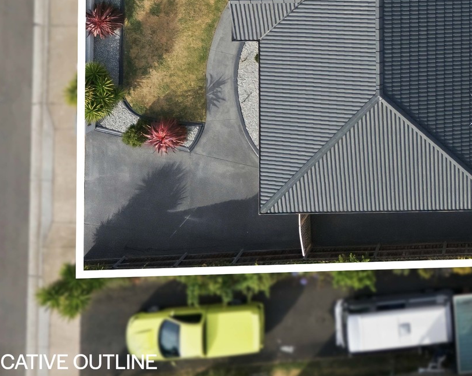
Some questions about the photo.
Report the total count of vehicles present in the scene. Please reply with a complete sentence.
My tally gives 2 vehicles in this view.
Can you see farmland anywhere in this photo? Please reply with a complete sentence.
No, the scene doesn't show any farmland.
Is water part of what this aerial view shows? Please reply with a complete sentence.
No, no water is visible.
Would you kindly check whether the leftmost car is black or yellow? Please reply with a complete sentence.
From above, the leftmost car appears yellow.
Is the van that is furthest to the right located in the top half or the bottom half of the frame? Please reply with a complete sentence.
The van that is furthest to the right is in the bottom half of the image.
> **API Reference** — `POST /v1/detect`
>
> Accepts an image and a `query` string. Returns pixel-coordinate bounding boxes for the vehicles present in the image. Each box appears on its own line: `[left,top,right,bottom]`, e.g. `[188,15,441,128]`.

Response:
[335,277,454,353]
[128,296,265,366]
